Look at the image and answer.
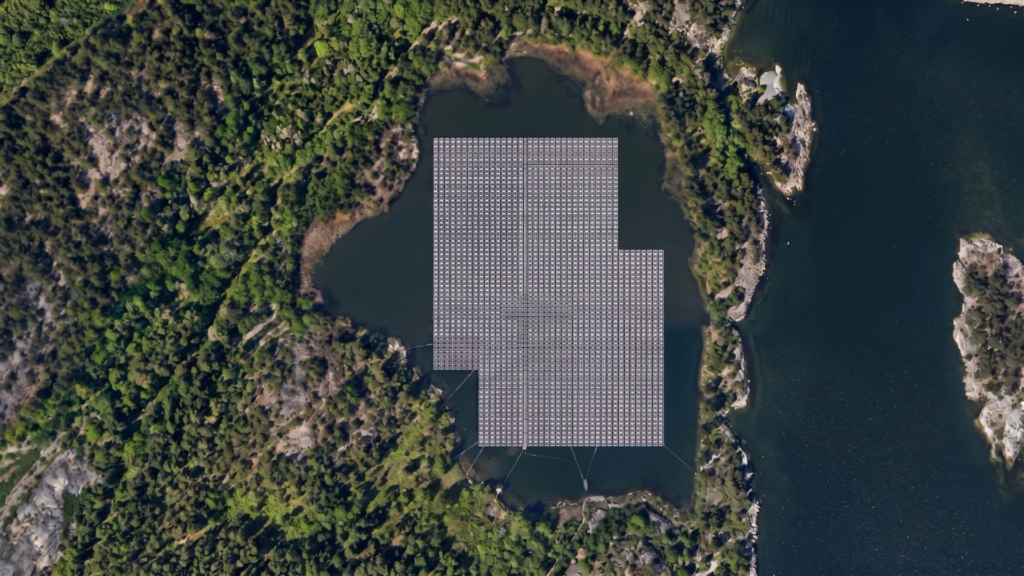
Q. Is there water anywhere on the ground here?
Yes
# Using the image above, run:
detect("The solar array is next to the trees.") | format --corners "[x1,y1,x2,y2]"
[434,138,665,452]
